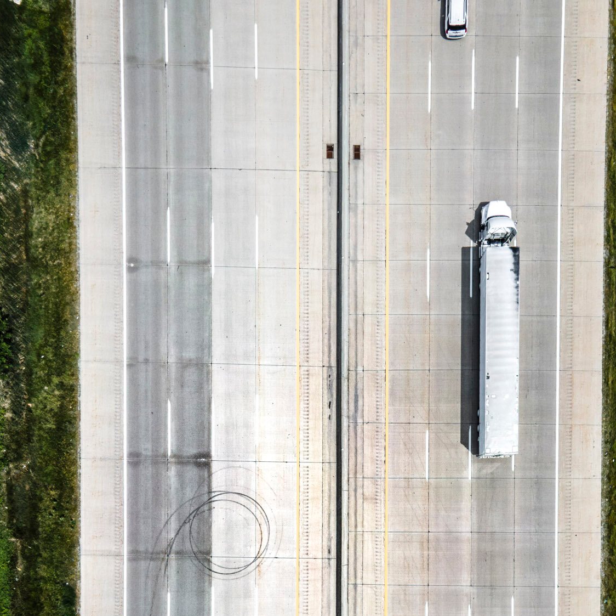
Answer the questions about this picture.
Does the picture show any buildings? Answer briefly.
No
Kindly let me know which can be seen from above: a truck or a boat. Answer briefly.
truck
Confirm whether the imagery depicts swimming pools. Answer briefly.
No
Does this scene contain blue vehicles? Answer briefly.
No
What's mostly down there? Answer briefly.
paved ground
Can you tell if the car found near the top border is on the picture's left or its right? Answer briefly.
right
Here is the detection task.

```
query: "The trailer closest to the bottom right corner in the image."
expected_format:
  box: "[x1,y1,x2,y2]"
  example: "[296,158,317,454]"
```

[476,246,520,461]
